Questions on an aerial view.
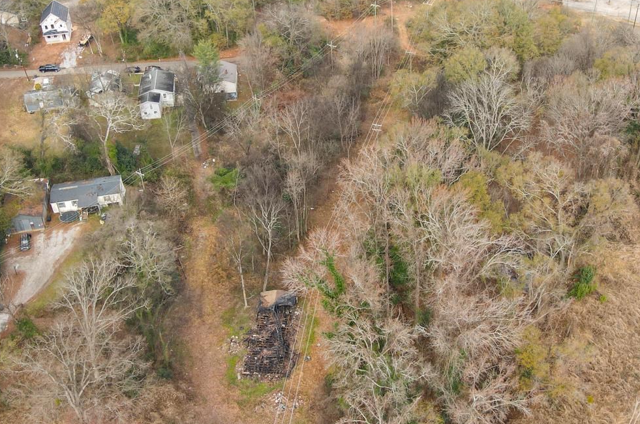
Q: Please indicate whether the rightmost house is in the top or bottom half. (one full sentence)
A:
It is in the bottom half that the rightmost house appears.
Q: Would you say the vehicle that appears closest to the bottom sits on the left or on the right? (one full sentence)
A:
The vehicle that appears closest to the bottom is on the left side of the image.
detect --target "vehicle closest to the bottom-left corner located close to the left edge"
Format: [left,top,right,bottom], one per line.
[12,229,36,250]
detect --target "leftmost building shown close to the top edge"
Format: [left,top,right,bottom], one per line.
[0,3,26,28]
